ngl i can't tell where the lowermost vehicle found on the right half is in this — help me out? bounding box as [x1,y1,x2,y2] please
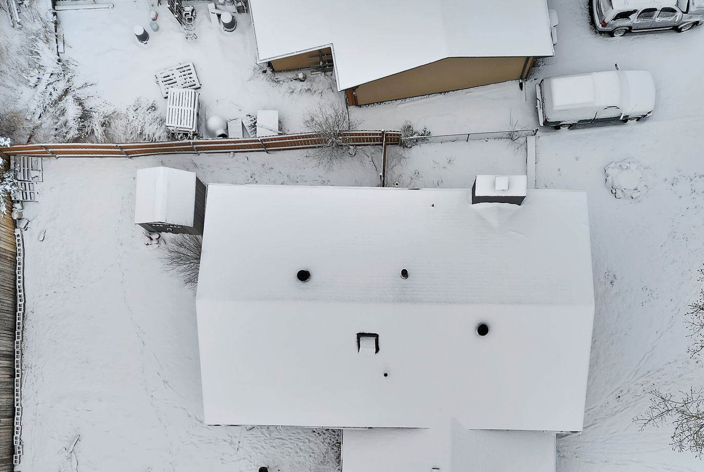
[537,66,660,132]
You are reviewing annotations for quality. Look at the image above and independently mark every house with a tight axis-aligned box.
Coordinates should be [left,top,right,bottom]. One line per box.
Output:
[244,0,559,108]
[195,173,595,472]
